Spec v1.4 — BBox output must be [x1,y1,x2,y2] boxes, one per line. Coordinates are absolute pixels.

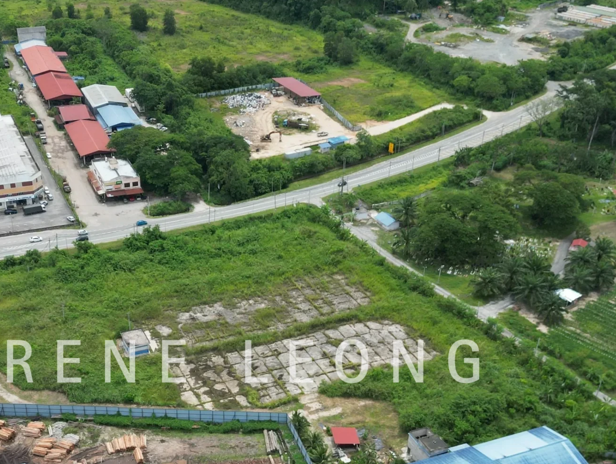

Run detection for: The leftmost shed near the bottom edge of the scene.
[332,425,359,453]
